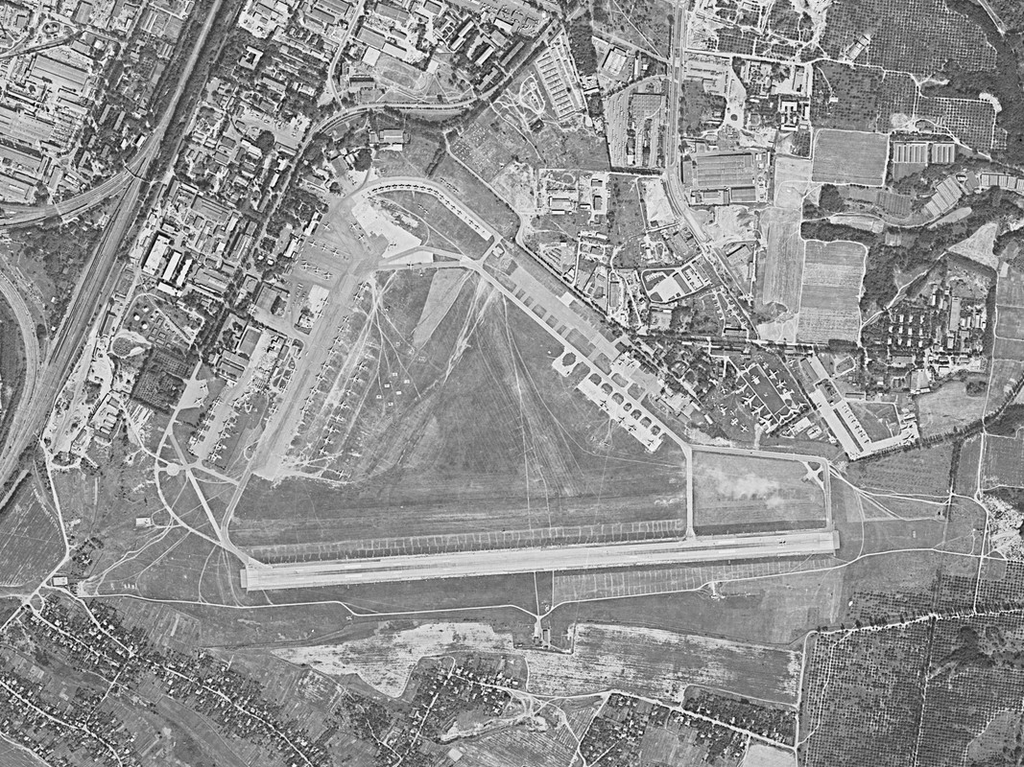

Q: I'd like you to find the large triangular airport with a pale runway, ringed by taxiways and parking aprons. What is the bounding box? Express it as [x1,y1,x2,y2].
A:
[155,175,919,605]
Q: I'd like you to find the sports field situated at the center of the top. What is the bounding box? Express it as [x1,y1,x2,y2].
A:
[376,52,433,93]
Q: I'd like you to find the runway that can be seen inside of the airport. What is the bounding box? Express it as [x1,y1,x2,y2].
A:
[248,535,834,587]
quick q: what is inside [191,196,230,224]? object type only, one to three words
building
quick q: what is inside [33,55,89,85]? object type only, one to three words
building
